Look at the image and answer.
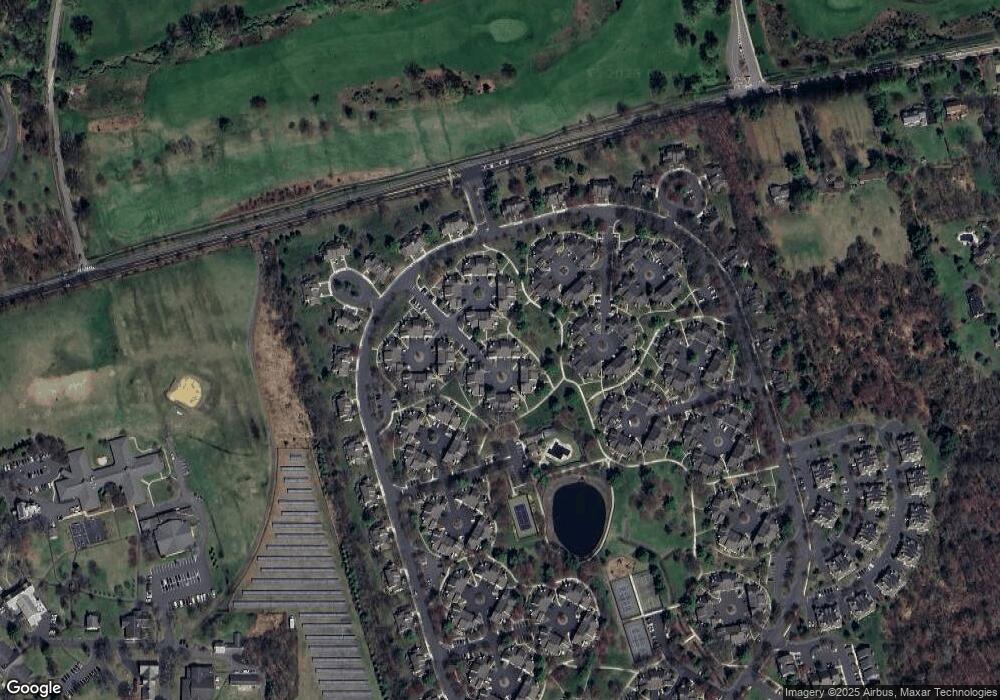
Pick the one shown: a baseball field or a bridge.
baseball field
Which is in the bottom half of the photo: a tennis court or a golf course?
tennis court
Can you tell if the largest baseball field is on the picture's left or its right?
left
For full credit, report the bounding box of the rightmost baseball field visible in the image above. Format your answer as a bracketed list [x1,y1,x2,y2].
[154,352,238,424]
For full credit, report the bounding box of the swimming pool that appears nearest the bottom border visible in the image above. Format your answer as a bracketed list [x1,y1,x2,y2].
[544,437,574,463]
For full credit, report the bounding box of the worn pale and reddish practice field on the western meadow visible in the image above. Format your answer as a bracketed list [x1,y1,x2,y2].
[24,368,98,408]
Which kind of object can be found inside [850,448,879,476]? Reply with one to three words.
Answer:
building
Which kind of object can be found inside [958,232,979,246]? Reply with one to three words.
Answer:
swimming pool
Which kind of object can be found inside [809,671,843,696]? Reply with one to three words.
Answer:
house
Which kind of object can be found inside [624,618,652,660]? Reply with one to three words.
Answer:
tennis court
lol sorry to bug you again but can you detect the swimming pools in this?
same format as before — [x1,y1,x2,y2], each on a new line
[958,232,979,246]
[544,437,574,463]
